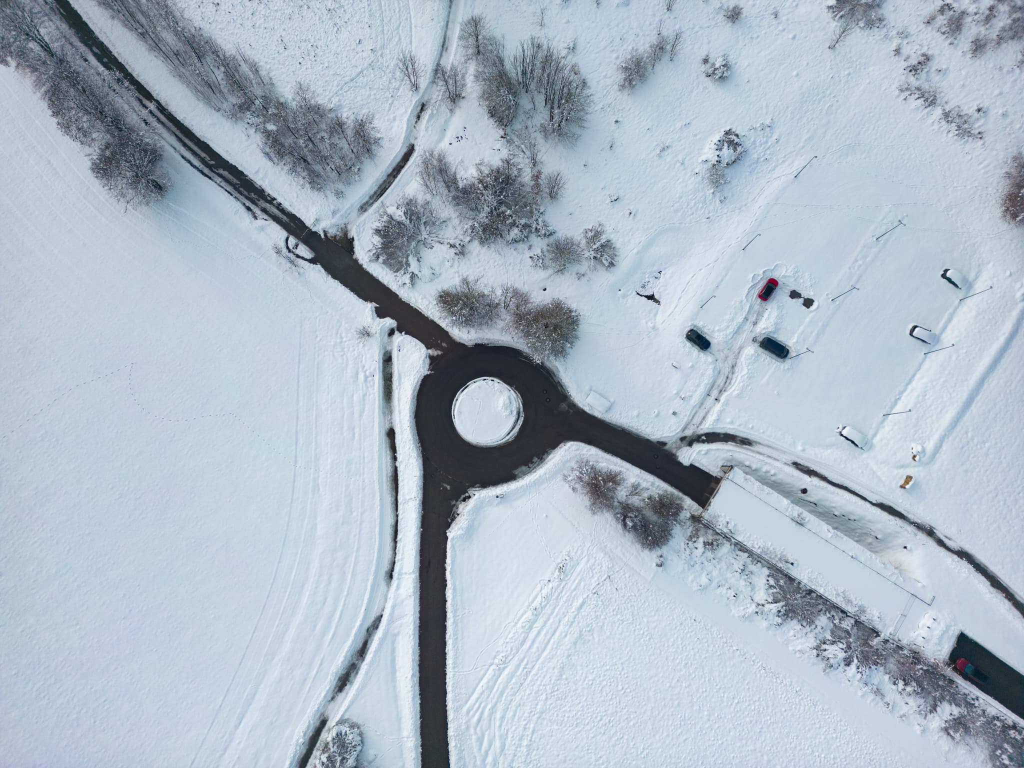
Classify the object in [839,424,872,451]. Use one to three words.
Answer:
car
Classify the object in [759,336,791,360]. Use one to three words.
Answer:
vehicle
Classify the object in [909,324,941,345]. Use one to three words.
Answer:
car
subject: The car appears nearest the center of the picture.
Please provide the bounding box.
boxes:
[685,329,712,350]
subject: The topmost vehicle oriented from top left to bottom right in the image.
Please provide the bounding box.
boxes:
[939,267,969,293]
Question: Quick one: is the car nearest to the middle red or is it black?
black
